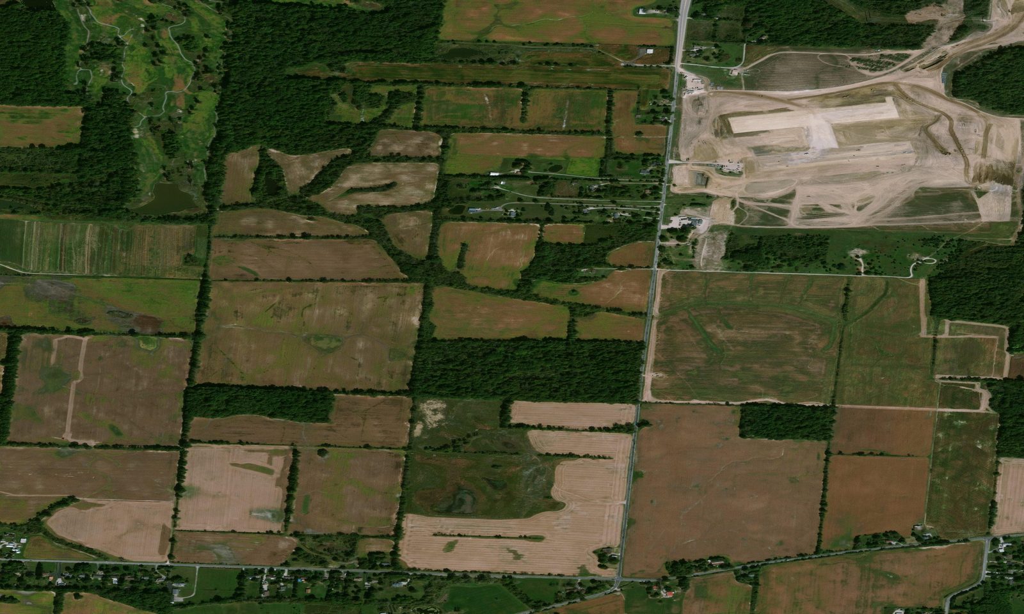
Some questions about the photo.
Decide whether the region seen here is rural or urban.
rural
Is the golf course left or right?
left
